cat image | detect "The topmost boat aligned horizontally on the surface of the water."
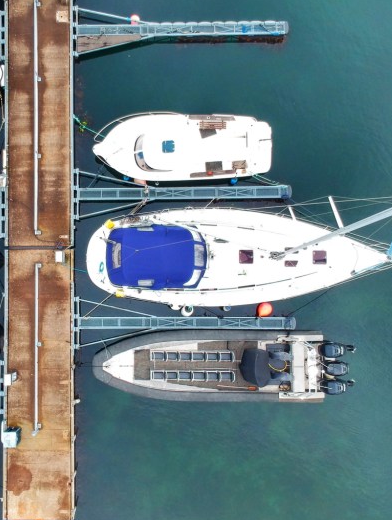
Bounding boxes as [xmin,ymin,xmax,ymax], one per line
[92,112,273,182]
